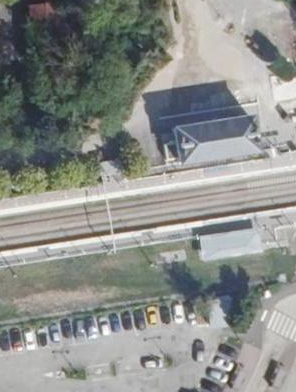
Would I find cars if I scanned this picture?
Yes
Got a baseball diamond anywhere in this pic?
No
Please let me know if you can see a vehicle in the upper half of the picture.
No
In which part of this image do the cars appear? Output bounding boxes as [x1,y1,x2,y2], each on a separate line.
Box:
[74,316,86,340]
[160,306,170,326]
[0,330,9,353]
[37,328,47,346]
[121,310,132,334]
[110,312,121,334]
[26,330,36,350]
[100,316,110,336]
[216,342,239,360]
[213,356,234,372]
[60,316,72,340]
[141,357,162,368]
[207,367,228,382]
[86,317,98,338]
[11,328,22,352]
[134,308,146,331]
[146,306,158,326]
[194,340,205,362]
[173,302,184,324]
[50,322,62,346]
[200,378,223,392]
